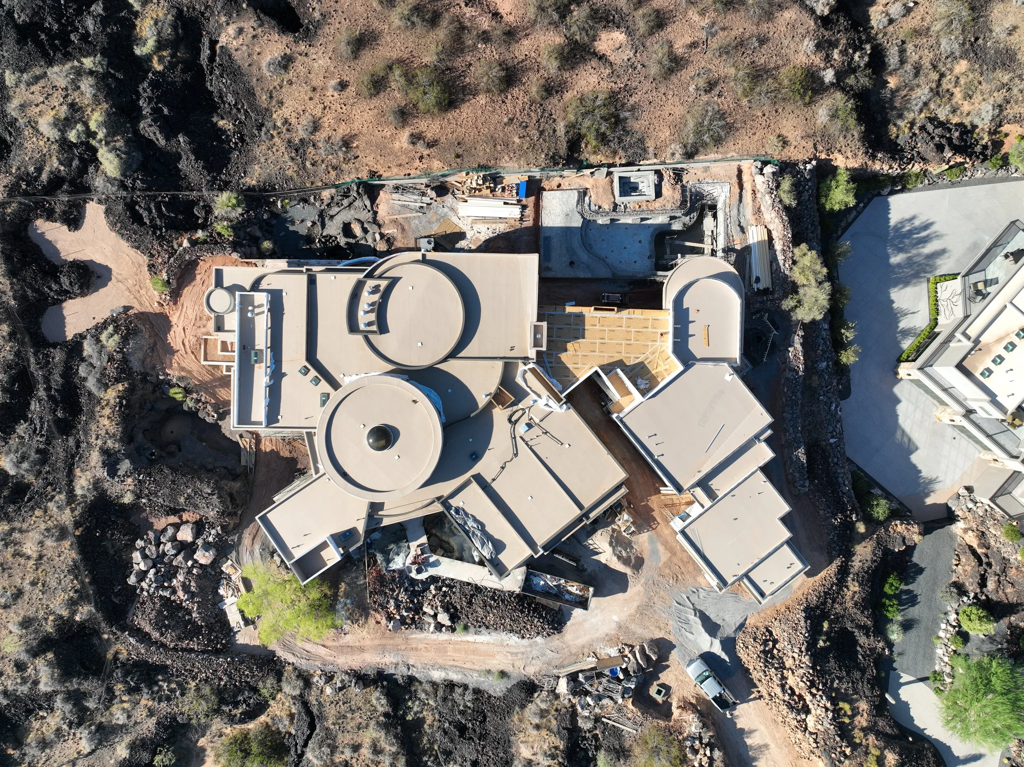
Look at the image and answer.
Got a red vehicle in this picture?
No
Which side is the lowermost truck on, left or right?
right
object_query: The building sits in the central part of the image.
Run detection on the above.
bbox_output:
[205,250,810,606]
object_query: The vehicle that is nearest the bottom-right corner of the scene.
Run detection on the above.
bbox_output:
[688,659,742,725]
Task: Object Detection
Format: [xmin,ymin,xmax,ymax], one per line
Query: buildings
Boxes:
[900,218,1024,531]
[205,250,810,606]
